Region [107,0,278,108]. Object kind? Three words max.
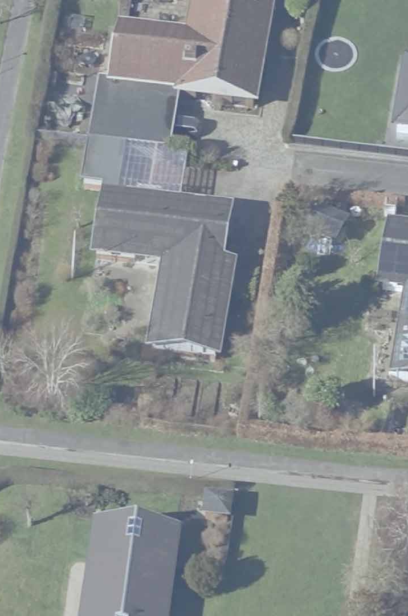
house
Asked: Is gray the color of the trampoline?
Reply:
Yes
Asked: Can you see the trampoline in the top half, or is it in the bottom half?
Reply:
top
